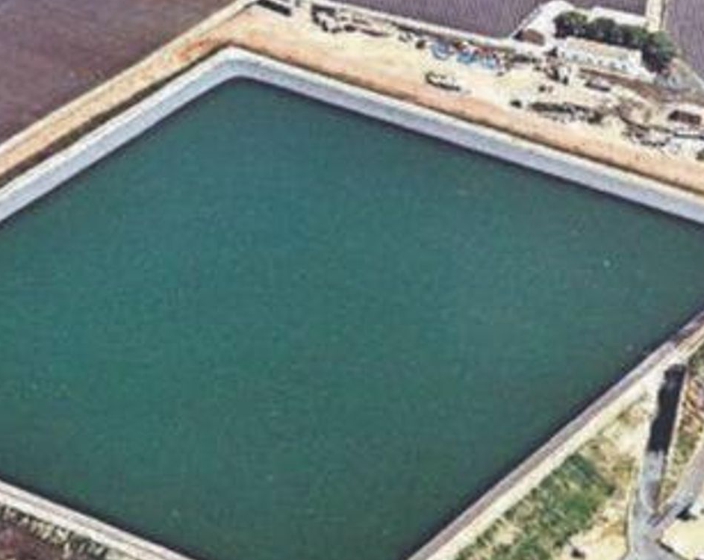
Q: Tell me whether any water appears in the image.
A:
Yes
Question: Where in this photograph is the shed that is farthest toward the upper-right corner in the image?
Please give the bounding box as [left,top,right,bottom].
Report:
[591,4,654,29]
